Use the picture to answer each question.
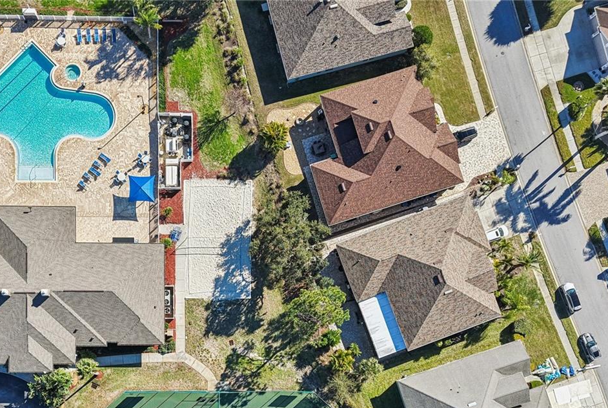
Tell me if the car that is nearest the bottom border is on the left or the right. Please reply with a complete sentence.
The car that is nearest the bottom border appears in the right half of the scene.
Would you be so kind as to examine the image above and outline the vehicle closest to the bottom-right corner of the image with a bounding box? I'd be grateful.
[576,331,601,362]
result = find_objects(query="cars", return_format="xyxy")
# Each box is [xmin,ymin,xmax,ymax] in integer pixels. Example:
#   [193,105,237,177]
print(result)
[556,283,583,315]
[576,331,601,362]
[453,125,480,143]
[485,224,510,241]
